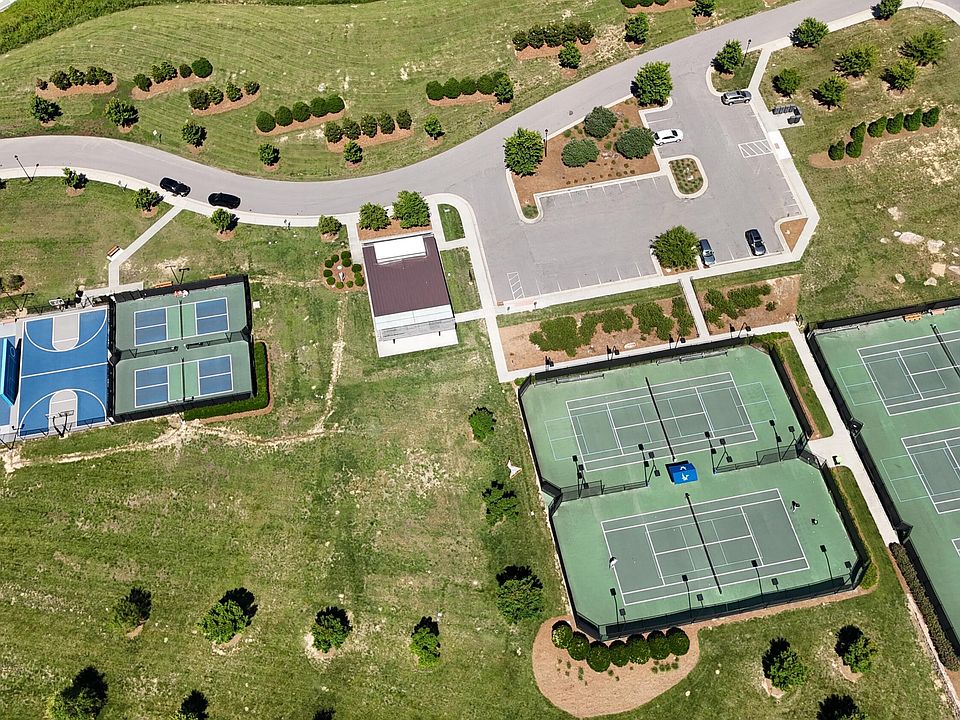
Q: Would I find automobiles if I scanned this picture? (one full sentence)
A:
Yes, there is an automobile in the image.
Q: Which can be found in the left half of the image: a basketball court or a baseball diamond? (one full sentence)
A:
The one visible in the left half of the image is a basketball court.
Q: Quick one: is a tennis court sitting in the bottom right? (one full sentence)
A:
Yes, a tennis court appears in the bottom right.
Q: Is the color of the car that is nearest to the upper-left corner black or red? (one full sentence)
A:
The car that is nearest to the upper-left corner is black.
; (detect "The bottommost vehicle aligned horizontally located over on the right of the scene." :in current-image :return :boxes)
[652,129,682,145]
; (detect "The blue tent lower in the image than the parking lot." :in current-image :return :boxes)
[667,463,698,491]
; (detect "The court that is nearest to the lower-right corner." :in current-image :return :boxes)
[898,523,960,667]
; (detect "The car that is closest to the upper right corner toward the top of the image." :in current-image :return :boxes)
[722,90,750,106]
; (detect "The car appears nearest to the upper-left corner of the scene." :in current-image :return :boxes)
[159,176,190,197]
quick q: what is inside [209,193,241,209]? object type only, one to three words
car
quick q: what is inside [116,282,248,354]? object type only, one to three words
sports court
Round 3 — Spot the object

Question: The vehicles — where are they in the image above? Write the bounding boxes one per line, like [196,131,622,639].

[652,129,682,145]
[722,90,750,106]
[698,239,716,267]
[209,193,241,209]
[159,176,190,197]
[745,230,765,256]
